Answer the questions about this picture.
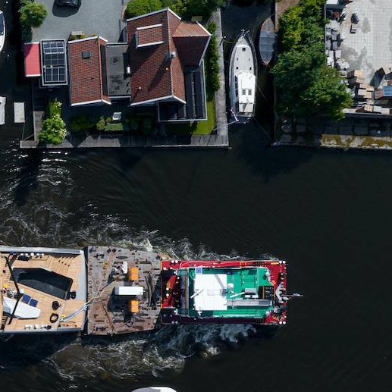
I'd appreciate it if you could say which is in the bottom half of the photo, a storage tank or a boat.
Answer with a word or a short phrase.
boat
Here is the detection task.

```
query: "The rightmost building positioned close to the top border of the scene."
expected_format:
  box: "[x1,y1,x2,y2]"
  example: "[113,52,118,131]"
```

[120,8,212,125]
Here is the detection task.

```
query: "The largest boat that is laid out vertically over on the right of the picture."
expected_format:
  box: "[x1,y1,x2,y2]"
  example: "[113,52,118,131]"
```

[232,28,263,125]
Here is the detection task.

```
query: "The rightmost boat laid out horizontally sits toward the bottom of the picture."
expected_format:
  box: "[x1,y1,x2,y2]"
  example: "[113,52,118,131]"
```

[155,259,302,325]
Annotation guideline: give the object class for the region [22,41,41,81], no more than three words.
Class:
shed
